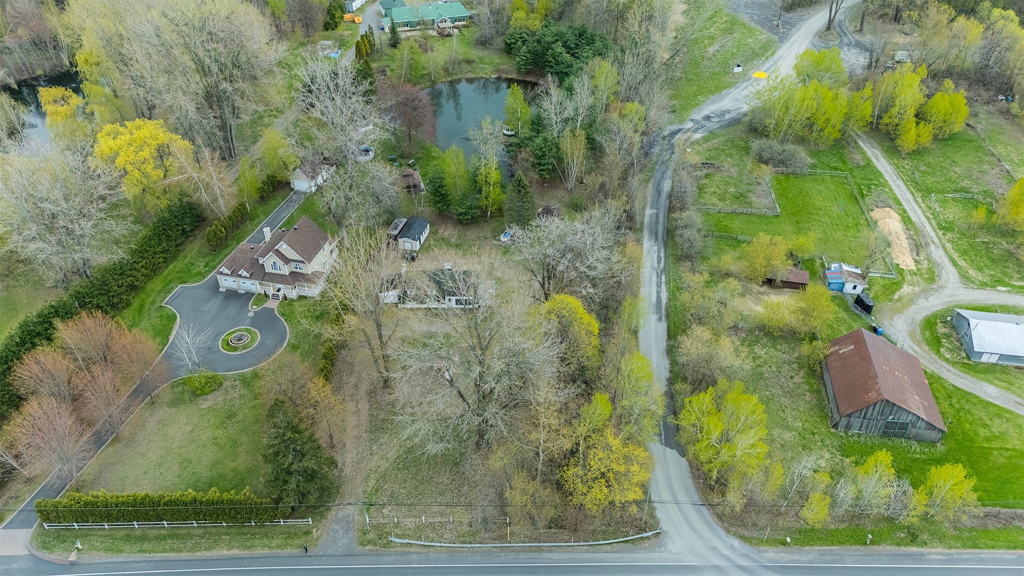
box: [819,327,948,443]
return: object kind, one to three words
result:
barn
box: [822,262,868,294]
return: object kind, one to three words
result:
shed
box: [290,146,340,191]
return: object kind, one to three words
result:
building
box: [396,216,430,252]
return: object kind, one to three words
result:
shed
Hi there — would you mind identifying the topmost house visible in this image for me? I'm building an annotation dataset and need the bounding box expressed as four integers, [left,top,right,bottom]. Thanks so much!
[377,0,470,32]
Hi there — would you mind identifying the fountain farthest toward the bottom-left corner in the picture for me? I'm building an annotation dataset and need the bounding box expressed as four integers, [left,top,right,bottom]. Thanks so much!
[227,329,251,347]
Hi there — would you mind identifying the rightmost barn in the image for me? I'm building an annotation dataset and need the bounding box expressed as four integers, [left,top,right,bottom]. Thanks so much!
[949,302,1024,365]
